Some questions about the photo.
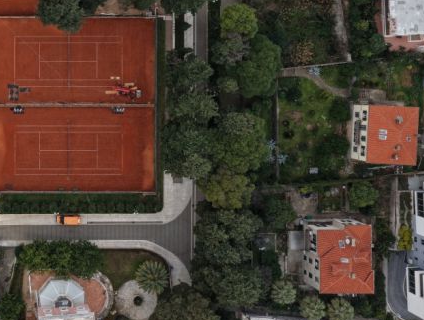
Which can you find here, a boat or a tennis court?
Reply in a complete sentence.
Looking from above, you can make out a tennis court.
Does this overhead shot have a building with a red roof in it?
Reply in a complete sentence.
Yes, there is a building with a red roof in the image.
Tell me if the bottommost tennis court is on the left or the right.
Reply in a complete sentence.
The bottommost tennis court is on the left side of the image.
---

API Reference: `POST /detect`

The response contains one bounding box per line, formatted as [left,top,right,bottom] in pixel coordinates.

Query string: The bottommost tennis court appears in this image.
[0,107,155,191]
